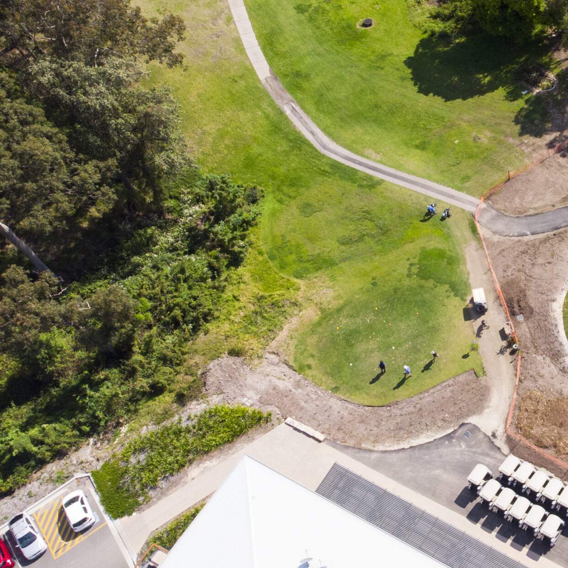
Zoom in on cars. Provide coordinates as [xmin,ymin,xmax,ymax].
[0,546,16,568]
[6,512,50,561]
[63,490,98,537]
